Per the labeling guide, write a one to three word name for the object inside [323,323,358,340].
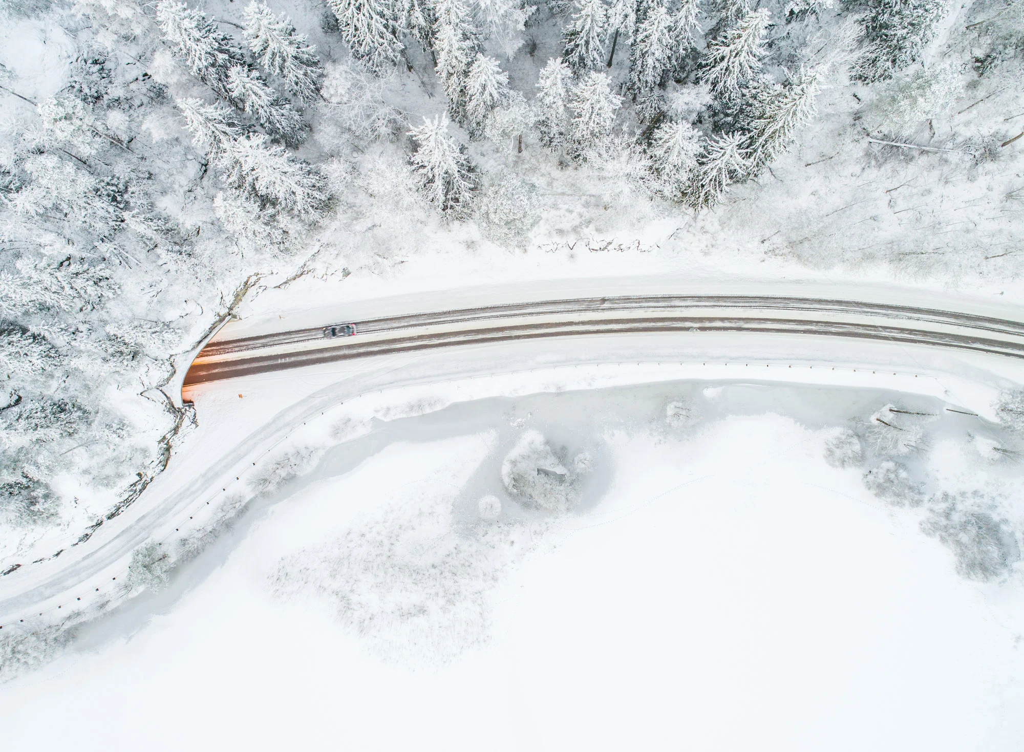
car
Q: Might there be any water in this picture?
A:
Yes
